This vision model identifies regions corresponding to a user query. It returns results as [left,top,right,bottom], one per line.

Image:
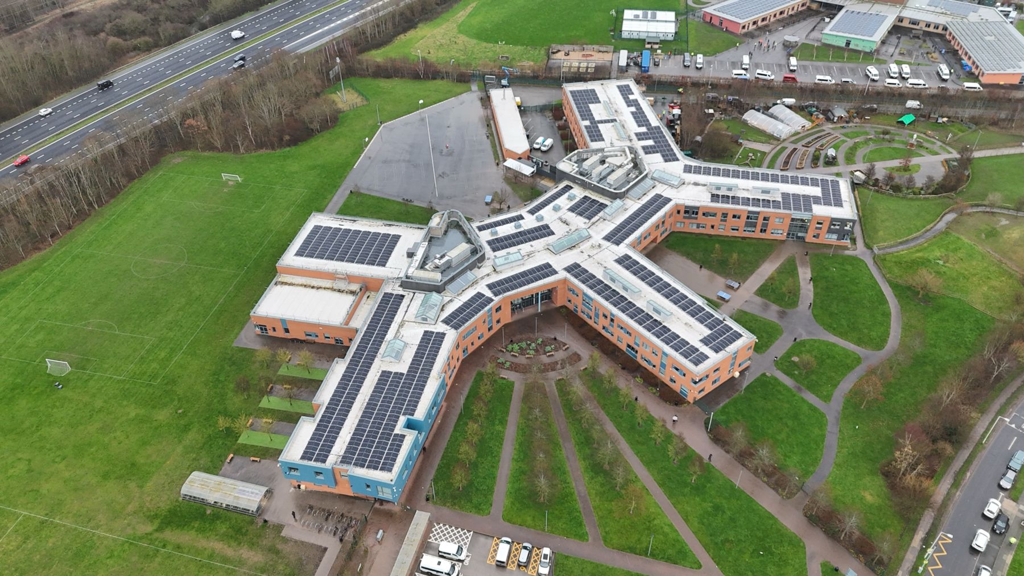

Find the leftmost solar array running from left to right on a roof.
[294,225,402,268]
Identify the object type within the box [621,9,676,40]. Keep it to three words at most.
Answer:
building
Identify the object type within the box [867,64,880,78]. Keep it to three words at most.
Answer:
vehicle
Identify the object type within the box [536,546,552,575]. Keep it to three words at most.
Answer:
car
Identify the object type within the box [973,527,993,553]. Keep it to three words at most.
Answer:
car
